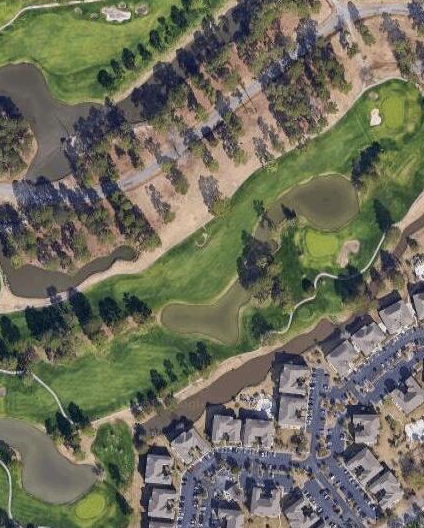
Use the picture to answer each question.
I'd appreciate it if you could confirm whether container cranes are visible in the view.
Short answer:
No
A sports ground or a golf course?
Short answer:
golf course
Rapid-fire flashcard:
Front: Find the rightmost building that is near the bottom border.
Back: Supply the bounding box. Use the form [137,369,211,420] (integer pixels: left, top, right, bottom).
[367,470,405,509]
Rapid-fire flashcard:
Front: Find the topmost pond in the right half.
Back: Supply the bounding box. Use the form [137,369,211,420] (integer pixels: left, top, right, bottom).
[254,174,359,249]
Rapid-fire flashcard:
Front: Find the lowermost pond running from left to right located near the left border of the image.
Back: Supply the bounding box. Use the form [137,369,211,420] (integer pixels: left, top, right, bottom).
[0,239,137,297]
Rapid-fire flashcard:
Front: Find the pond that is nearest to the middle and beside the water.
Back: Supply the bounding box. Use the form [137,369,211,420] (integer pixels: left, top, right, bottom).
[161,281,248,344]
